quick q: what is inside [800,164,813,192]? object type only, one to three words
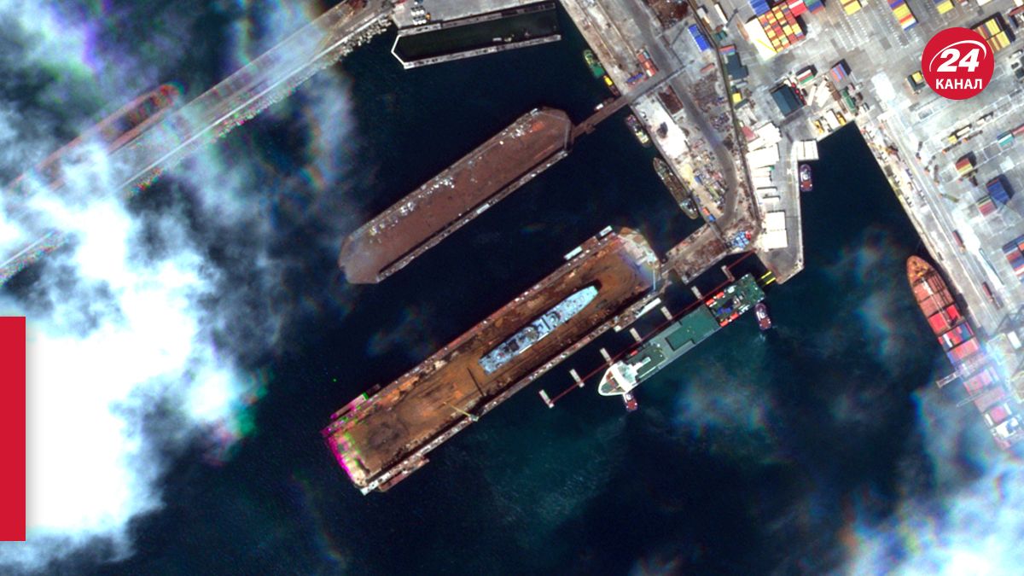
boat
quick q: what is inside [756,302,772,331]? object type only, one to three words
boat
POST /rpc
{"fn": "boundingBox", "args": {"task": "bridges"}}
[569,95,634,142]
